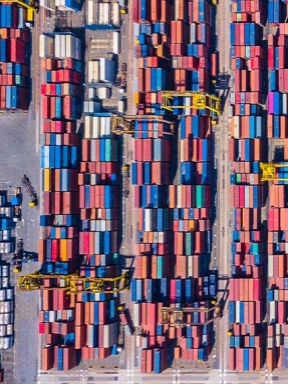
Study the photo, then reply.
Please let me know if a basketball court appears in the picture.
No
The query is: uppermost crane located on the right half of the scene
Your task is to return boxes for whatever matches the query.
[161,90,223,115]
